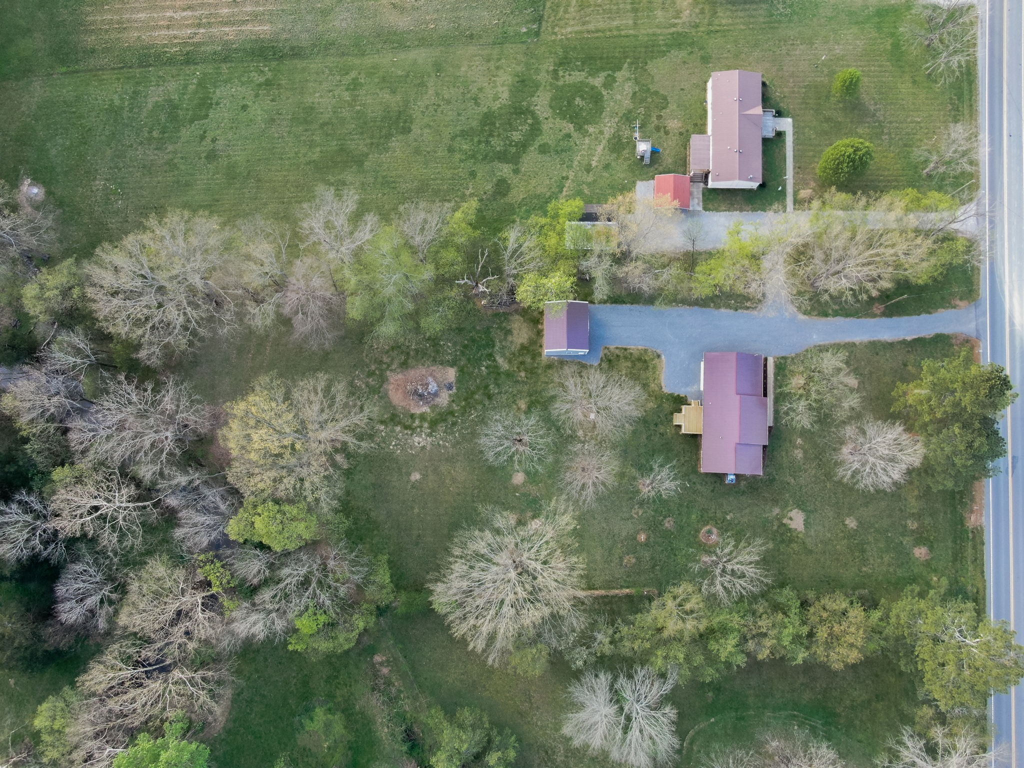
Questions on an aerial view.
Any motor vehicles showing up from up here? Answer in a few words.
No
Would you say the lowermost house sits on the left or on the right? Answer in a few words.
right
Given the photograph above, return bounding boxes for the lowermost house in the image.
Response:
[673,351,769,473]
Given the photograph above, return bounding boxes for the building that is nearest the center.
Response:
[544,300,588,354]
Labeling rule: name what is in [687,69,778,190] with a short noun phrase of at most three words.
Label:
house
